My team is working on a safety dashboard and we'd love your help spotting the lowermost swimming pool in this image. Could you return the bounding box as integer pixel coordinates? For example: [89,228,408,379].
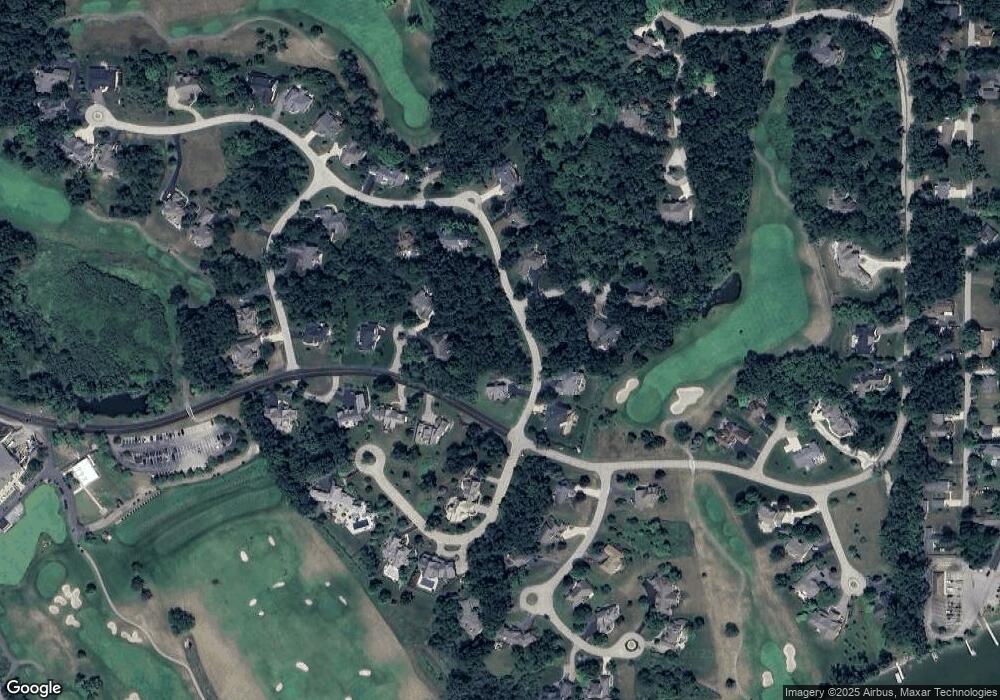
[417,575,438,592]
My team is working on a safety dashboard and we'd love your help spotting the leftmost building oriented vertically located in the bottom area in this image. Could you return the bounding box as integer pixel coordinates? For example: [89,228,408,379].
[0,426,36,502]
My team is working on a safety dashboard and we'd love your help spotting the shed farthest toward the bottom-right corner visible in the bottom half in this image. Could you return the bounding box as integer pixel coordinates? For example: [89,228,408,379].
[934,571,947,597]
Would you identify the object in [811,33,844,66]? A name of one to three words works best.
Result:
house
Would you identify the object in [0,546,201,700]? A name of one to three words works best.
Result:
golf course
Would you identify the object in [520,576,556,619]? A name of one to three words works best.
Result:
roundabout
